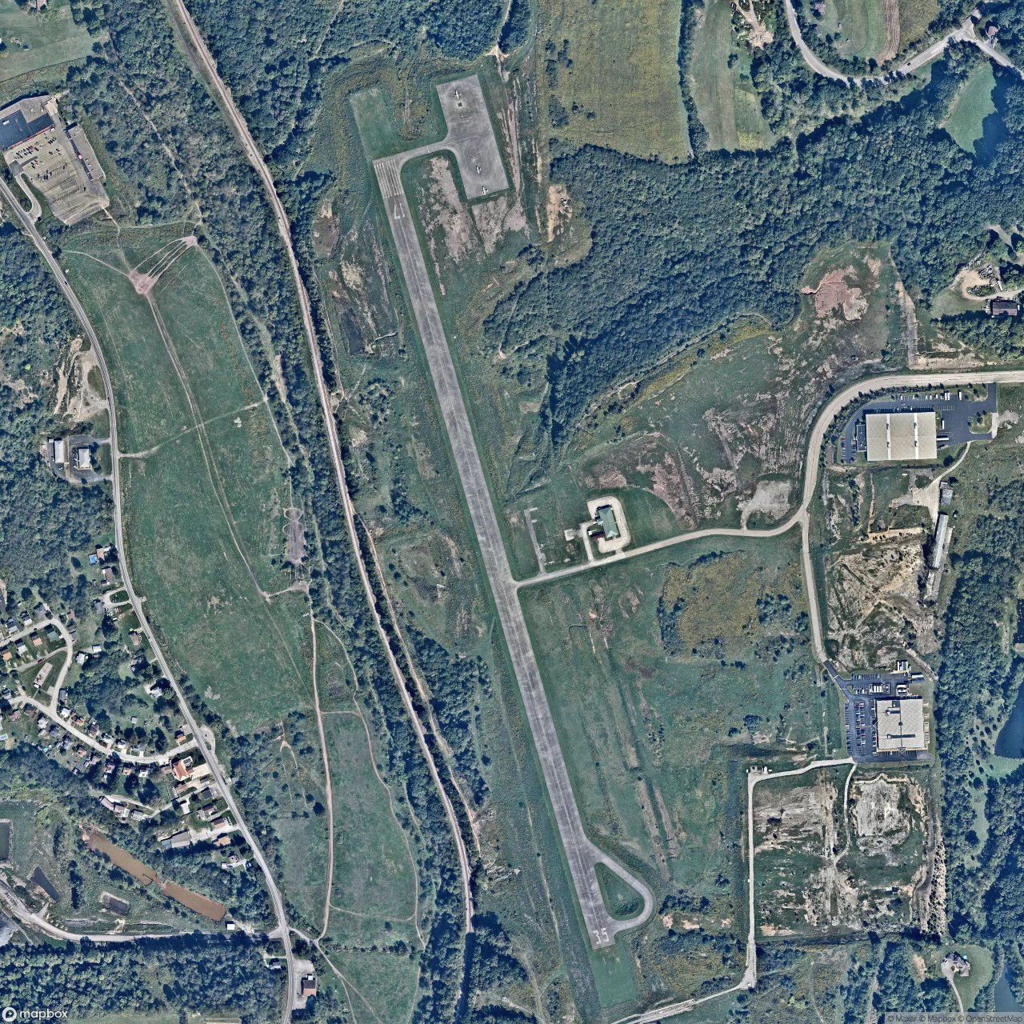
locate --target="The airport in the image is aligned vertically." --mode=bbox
[373,75,653,950]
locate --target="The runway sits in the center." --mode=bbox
[373,154,615,950]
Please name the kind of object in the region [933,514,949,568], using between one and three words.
building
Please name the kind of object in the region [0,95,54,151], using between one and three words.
building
